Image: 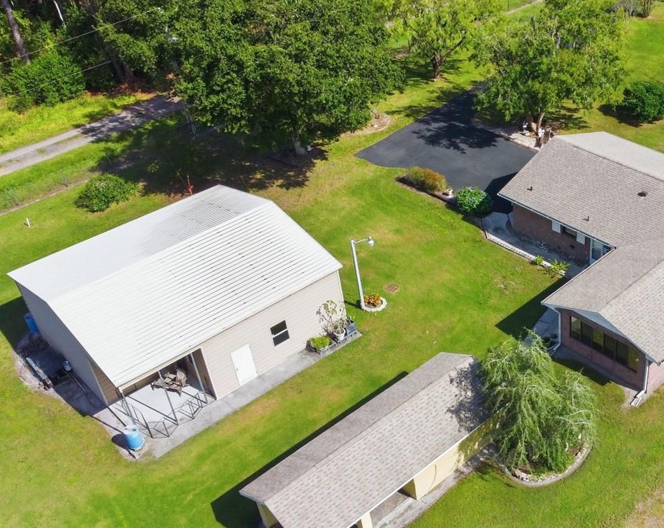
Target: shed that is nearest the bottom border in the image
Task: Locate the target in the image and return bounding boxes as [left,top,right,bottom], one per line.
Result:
[239,355,511,528]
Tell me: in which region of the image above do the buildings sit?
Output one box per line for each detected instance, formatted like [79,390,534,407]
[239,355,511,528]
[4,182,352,436]
[497,132,664,407]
